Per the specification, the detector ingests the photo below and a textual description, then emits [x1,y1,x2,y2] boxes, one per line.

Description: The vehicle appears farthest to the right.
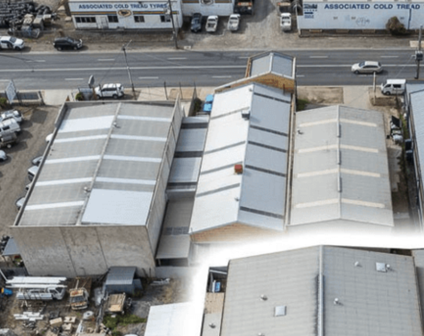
[377,80,410,97]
